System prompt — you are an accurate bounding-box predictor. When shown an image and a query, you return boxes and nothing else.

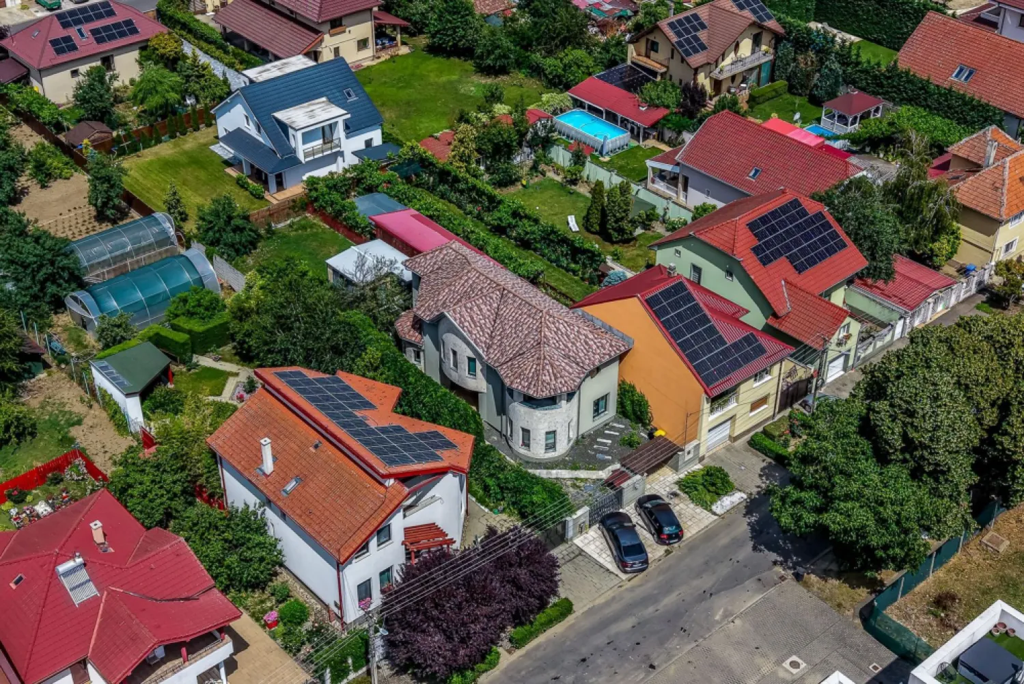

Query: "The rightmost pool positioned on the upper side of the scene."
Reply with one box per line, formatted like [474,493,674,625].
[803,124,839,146]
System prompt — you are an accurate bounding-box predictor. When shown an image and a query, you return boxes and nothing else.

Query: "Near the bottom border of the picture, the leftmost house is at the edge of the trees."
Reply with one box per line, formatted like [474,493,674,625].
[0,486,243,684]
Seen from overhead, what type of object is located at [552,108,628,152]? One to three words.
swimming pool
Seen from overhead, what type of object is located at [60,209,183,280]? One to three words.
greenhouse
